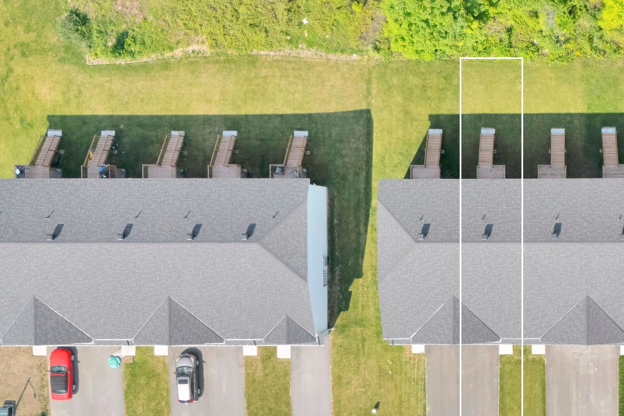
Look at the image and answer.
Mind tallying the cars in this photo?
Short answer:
two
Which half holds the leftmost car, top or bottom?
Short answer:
bottom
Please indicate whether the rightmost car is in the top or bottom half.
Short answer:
bottom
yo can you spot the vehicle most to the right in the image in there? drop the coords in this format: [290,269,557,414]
[173,353,200,404]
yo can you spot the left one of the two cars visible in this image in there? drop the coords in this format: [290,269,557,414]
[47,348,75,402]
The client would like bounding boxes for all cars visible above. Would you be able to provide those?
[173,353,200,404]
[47,348,75,402]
